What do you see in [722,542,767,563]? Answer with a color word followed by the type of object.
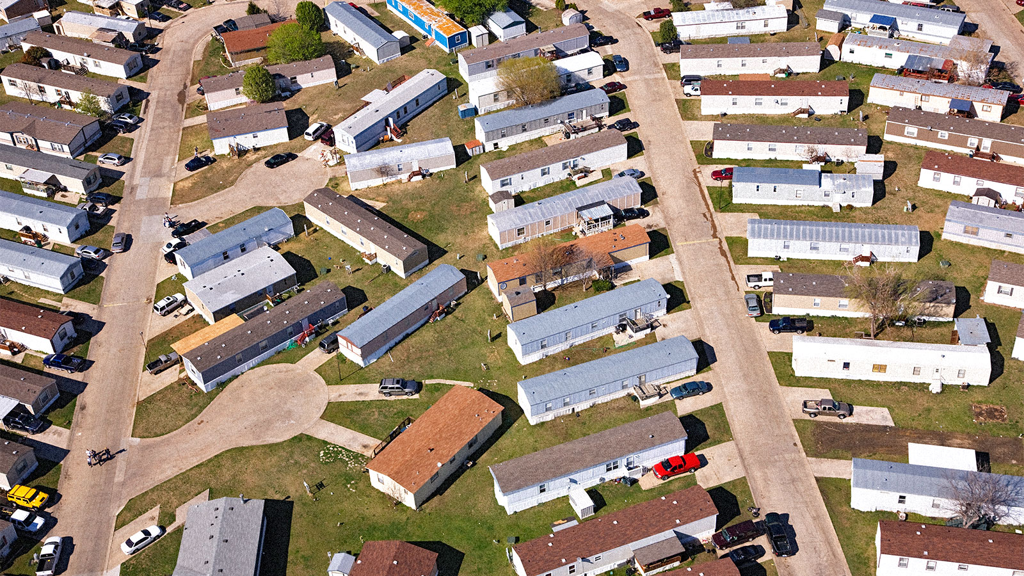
black car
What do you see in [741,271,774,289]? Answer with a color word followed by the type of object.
white vehicle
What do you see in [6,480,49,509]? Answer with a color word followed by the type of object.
yellow car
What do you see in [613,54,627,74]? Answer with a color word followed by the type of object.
blue car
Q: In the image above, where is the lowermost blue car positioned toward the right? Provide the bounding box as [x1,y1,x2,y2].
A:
[670,379,710,400]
